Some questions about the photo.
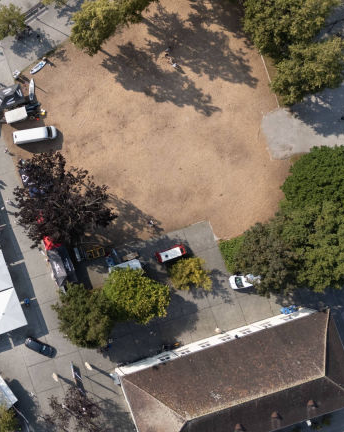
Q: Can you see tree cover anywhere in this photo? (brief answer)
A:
Yes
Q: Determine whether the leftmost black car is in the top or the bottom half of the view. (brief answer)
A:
bottom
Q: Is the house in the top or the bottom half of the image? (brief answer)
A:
bottom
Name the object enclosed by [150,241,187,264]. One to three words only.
vehicle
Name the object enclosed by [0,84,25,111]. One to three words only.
gazebo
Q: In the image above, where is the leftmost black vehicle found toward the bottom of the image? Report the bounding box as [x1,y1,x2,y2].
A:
[23,333,58,359]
